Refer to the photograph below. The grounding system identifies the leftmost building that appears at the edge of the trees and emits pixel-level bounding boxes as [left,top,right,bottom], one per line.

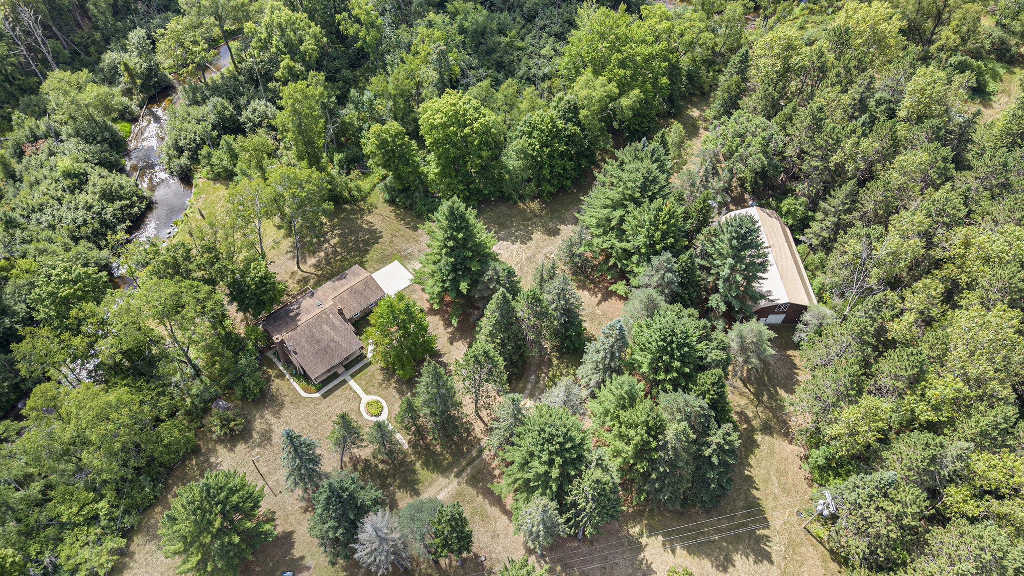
[238,267,387,385]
